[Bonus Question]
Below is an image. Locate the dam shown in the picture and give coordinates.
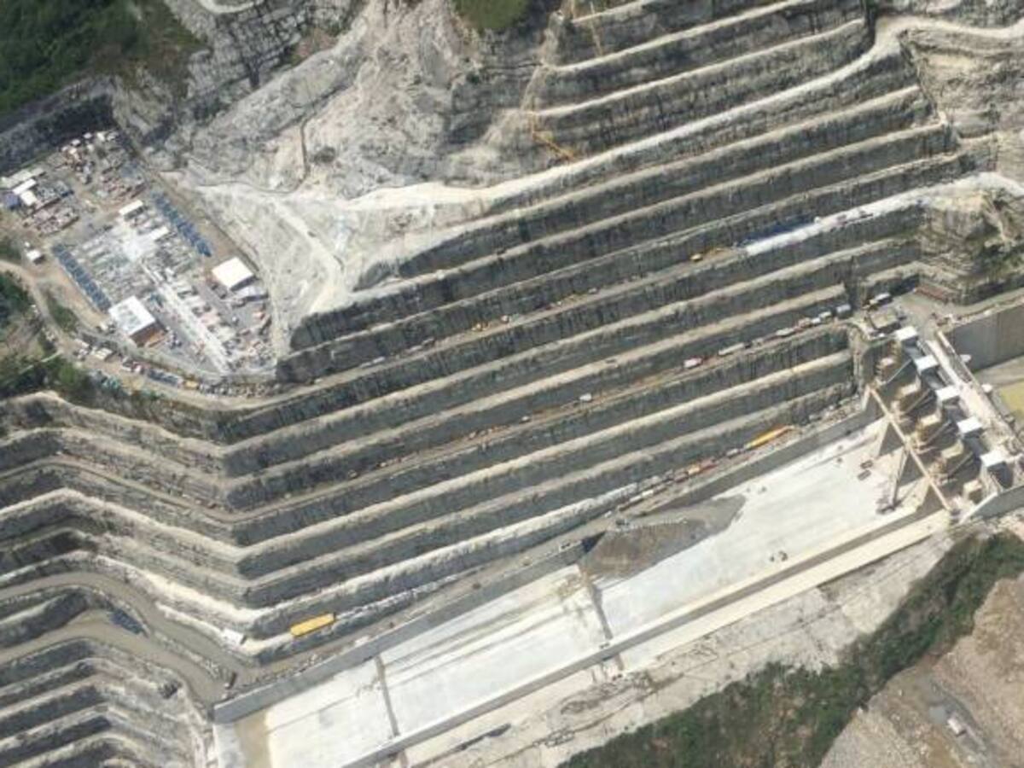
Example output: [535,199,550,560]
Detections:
[852,329,1024,539]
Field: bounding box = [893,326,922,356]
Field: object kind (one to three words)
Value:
building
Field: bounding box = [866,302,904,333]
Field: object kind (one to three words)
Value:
shed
